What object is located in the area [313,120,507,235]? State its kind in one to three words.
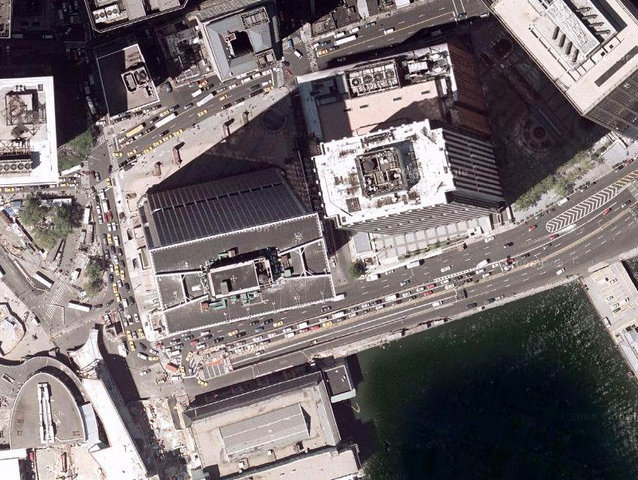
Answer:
building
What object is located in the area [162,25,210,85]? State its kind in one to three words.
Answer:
building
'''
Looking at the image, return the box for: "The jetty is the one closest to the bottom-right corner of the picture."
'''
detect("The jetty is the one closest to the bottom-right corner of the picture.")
[581,263,638,378]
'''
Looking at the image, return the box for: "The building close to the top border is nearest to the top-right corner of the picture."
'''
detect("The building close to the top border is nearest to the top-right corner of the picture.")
[483,0,638,138]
